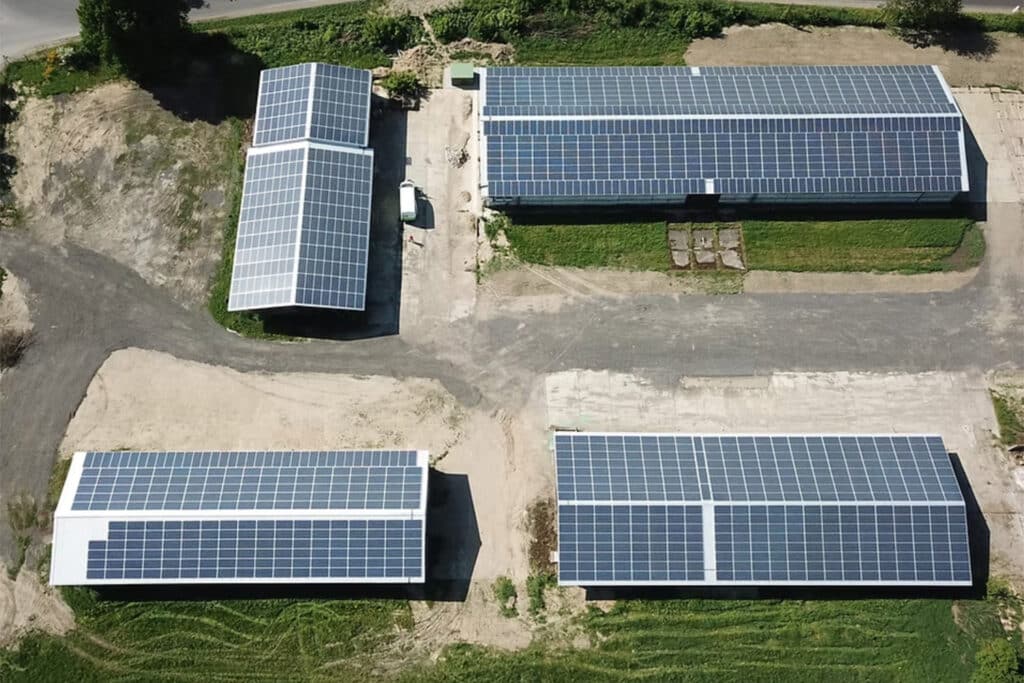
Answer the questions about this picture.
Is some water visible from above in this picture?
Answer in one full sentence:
No, the picture contains no water.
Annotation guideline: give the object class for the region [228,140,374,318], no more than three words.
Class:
barn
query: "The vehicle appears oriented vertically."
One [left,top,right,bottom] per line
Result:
[398,184,416,221]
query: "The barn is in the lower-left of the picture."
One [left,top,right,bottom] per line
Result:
[49,450,429,586]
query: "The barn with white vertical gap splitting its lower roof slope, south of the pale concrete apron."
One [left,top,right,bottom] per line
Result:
[551,432,972,587]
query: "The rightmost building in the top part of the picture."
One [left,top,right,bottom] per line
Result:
[480,65,970,211]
